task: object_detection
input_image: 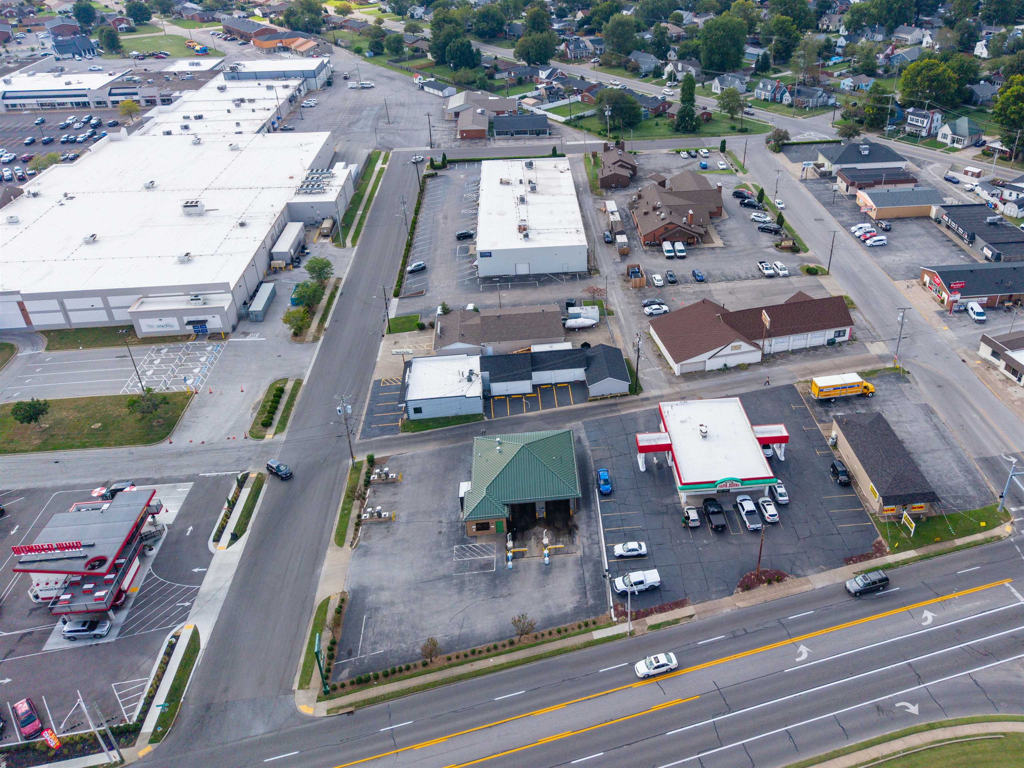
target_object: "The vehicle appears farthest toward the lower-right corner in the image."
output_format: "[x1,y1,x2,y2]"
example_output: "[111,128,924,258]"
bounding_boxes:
[842,566,893,596]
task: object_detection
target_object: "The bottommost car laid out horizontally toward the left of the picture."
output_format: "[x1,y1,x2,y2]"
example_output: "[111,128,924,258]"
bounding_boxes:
[63,619,110,641]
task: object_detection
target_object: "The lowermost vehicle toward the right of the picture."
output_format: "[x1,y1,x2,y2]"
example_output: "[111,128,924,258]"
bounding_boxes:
[632,651,680,679]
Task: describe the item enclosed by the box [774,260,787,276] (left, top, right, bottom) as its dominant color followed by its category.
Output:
white vehicle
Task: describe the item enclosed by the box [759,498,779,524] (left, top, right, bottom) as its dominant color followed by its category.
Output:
white car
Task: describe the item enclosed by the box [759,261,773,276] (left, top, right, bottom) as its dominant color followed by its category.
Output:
white vehicle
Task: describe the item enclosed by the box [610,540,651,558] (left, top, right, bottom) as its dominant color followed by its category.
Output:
white car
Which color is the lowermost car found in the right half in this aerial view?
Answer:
white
